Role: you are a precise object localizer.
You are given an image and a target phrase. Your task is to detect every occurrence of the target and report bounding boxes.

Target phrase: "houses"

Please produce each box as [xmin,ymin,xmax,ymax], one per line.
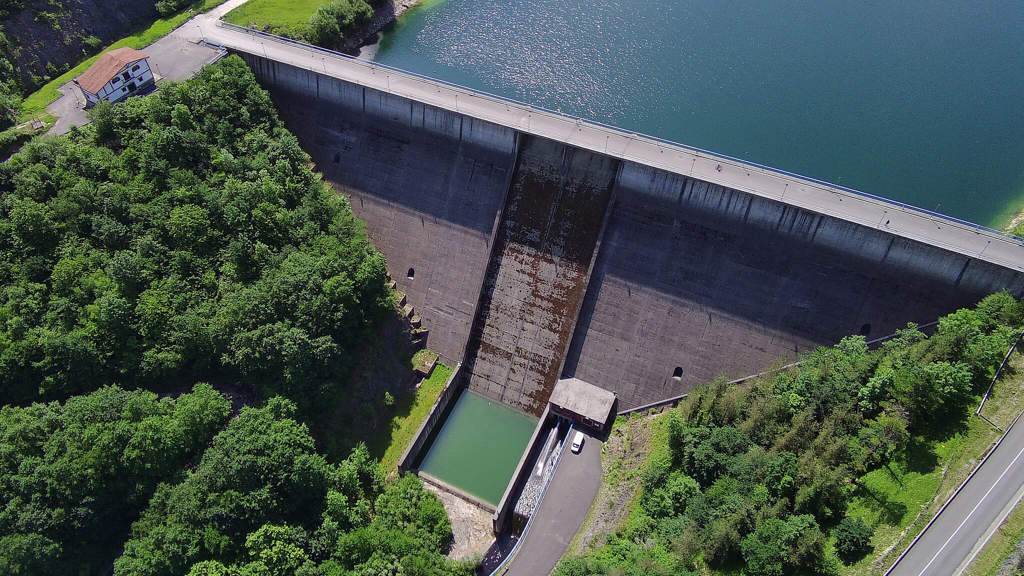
[549,381,617,430]
[68,51,154,110]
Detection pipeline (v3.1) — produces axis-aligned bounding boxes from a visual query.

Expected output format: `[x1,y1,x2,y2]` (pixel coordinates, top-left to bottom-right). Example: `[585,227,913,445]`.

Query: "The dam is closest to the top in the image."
[218,24,1024,424]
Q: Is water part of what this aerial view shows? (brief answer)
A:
Yes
